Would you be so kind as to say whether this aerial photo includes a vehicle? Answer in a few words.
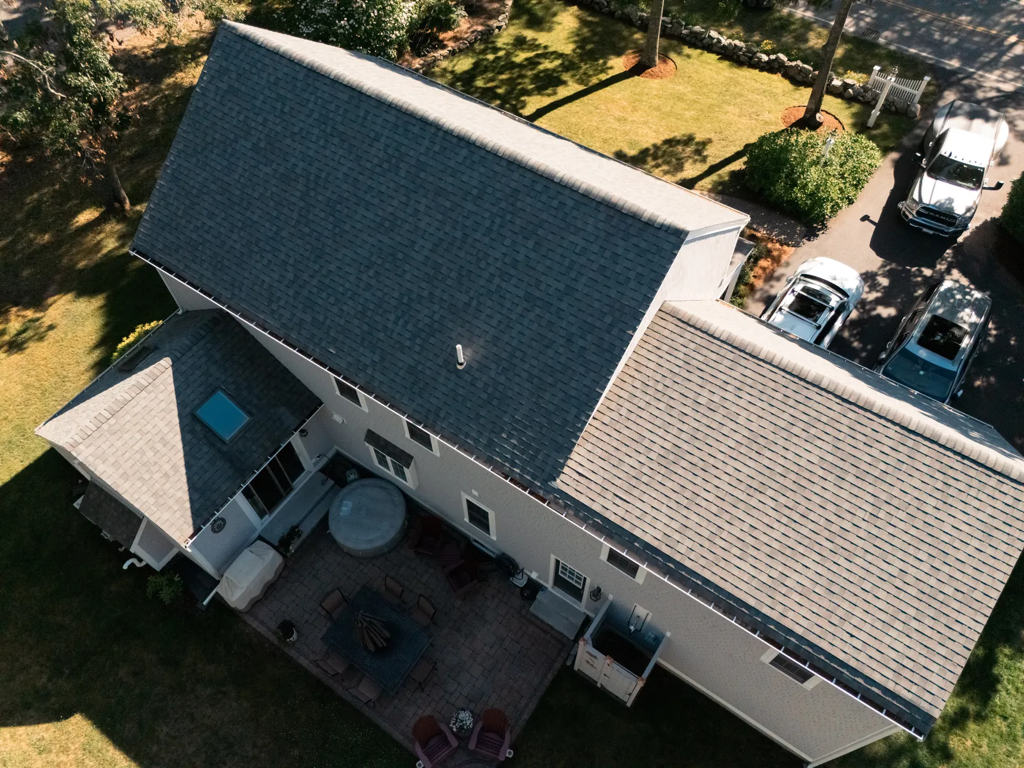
Yes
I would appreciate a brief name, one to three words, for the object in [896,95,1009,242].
truck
